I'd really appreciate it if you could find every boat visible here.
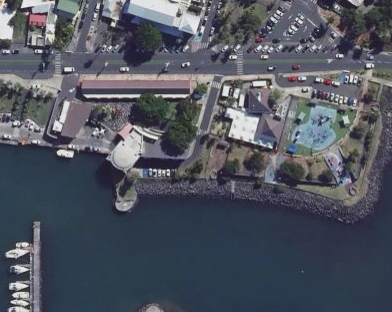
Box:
[10,282,30,289]
[6,247,31,257]
[11,298,32,305]
[16,241,31,247]
[10,265,32,273]
[8,306,32,312]
[13,291,31,298]
[57,150,76,158]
